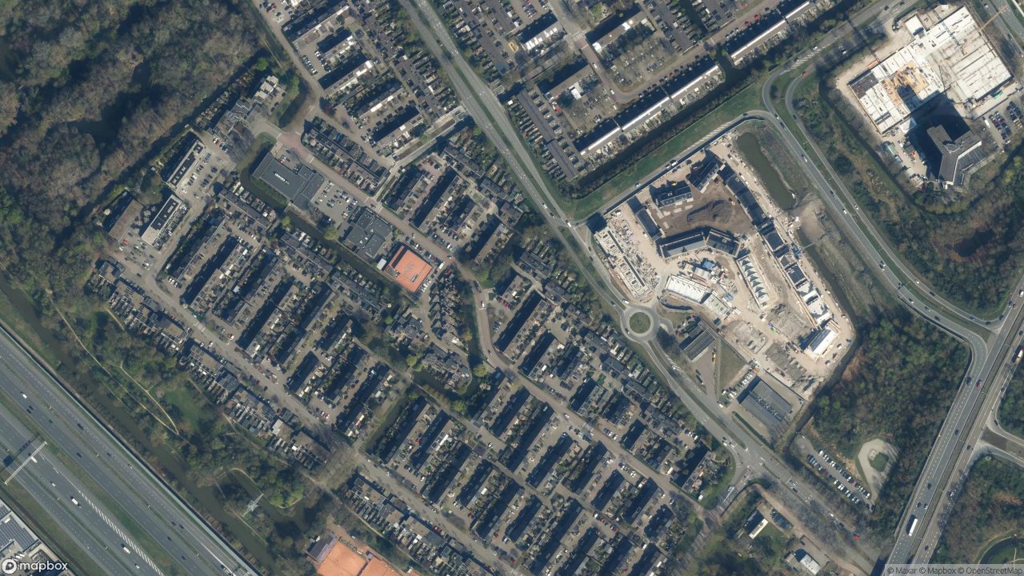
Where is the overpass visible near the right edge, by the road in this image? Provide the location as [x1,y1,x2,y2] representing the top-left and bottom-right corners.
[876,270,1024,576]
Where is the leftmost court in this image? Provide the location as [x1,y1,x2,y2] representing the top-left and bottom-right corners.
[312,542,366,576]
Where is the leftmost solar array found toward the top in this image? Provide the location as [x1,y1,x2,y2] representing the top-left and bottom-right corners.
[152,199,178,230]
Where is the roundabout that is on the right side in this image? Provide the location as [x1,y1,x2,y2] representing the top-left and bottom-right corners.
[620,303,660,343]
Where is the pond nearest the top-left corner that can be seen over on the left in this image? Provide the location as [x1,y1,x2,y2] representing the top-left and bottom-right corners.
[76,60,162,148]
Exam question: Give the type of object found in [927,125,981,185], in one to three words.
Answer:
building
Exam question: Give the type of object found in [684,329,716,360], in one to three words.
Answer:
building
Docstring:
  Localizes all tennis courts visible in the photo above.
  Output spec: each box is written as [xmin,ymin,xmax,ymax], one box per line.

[312,542,366,576]
[362,557,401,576]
